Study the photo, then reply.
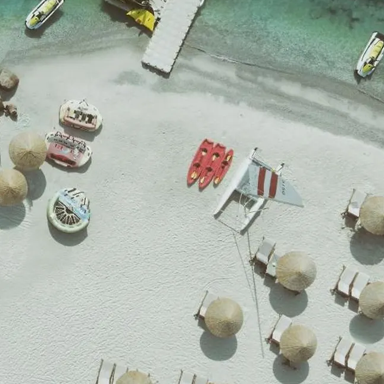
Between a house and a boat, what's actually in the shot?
boat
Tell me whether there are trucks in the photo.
No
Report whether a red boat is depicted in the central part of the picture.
Yes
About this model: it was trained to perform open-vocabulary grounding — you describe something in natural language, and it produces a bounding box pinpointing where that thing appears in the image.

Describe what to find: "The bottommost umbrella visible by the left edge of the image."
[0,167,28,209]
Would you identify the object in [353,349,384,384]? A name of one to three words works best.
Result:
umbrella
